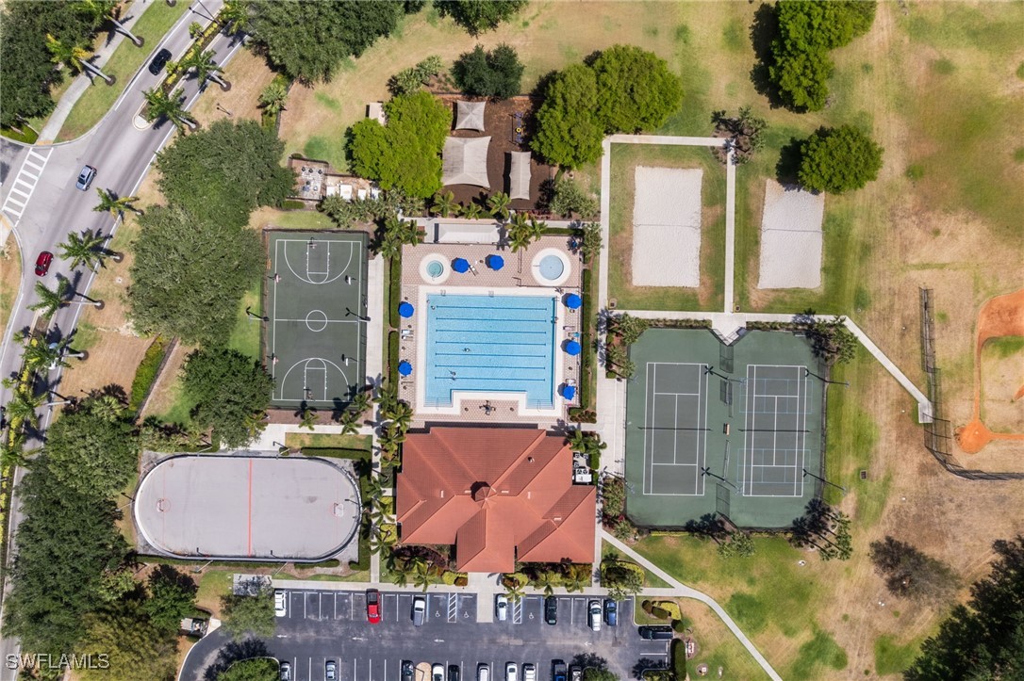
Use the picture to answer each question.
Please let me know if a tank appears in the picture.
No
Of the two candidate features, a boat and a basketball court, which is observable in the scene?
basketball court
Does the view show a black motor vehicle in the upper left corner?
Yes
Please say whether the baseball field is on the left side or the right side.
right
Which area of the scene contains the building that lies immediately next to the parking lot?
bottom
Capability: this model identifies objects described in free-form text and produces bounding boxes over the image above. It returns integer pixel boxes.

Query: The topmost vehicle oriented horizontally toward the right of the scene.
[637,626,671,641]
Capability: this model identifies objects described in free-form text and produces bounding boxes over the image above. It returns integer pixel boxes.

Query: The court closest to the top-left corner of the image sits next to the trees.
[267,231,368,409]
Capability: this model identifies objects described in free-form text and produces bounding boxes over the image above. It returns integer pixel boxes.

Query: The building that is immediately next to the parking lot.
[396,427,596,574]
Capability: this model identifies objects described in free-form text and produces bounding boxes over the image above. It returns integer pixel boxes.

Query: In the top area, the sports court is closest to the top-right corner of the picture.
[758,179,829,289]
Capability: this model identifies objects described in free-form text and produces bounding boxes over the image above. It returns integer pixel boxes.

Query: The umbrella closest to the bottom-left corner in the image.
[398,361,412,375]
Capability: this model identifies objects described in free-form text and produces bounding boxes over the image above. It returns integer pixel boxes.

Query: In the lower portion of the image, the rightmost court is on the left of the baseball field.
[723,331,824,528]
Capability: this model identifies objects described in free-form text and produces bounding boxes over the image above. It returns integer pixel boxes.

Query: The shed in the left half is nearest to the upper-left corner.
[370,103,387,127]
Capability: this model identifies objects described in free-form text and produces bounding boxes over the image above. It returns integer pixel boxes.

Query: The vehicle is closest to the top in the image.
[149,48,172,75]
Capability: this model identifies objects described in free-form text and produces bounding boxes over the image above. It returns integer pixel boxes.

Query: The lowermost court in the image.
[130,453,360,564]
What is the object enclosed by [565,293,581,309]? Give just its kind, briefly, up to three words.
umbrella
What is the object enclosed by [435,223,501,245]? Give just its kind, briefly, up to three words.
building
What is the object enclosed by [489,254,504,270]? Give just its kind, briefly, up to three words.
umbrella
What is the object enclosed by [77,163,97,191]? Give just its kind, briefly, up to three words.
car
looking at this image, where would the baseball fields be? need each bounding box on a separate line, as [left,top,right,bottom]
[957,287,1024,453]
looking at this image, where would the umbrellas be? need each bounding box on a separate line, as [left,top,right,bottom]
[398,361,412,375]
[560,385,576,401]
[454,257,470,273]
[565,340,581,356]
[399,303,413,317]
[489,254,504,270]
[565,293,581,309]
